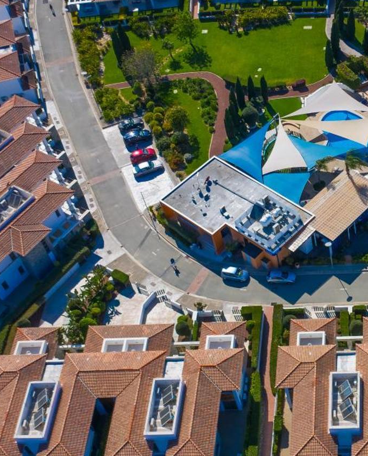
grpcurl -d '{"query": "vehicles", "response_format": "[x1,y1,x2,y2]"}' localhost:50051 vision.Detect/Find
[267,269,298,284]
[130,148,158,163]
[124,130,150,144]
[119,119,144,132]
[134,162,163,177]
[220,265,250,282]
